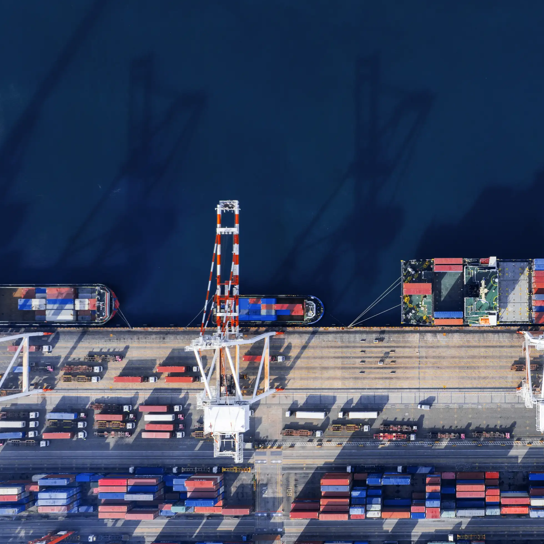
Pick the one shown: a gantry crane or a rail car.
gantry crane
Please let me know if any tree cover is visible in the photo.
No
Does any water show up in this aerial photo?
Yes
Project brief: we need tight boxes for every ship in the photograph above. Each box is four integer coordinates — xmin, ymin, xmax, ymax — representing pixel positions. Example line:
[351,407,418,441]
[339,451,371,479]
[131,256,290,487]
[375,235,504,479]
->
[0,283,121,324]
[211,294,325,324]
[402,256,532,325]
